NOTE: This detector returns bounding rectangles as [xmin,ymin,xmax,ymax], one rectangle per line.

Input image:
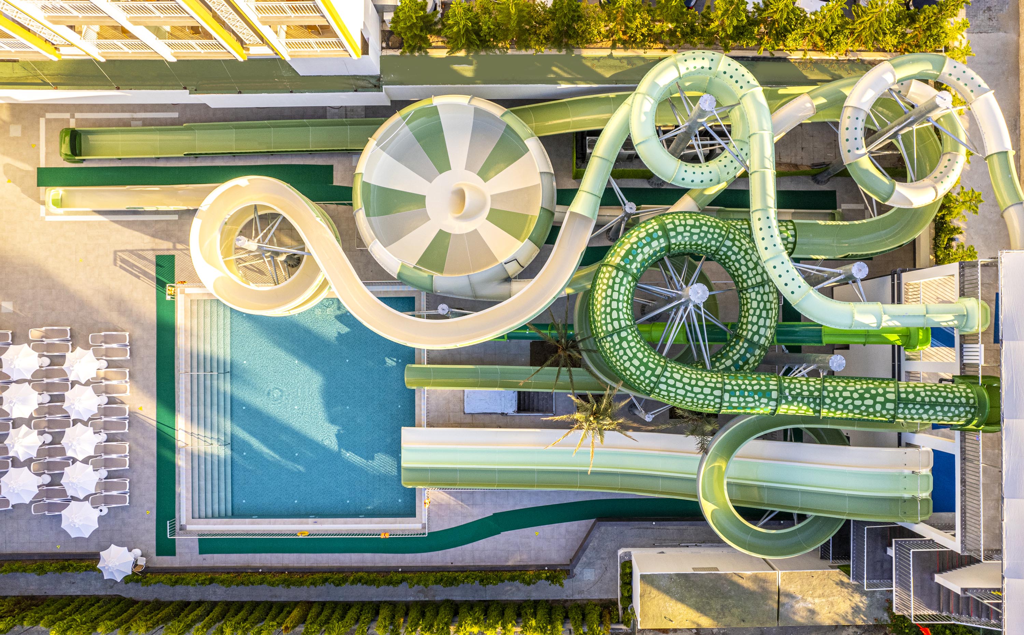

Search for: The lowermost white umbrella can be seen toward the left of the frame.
[99,545,146,582]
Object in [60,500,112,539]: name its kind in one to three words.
umbrella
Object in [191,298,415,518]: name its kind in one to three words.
swimming pool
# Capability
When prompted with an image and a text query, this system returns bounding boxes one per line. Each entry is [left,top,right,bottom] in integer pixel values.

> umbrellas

[4,424,58,462]
[60,500,112,539]
[99,545,146,582]
[1,344,55,381]
[2,381,56,418]
[61,383,112,422]
[61,461,111,499]
[61,423,111,460]
[0,465,55,505]
[61,346,112,386]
